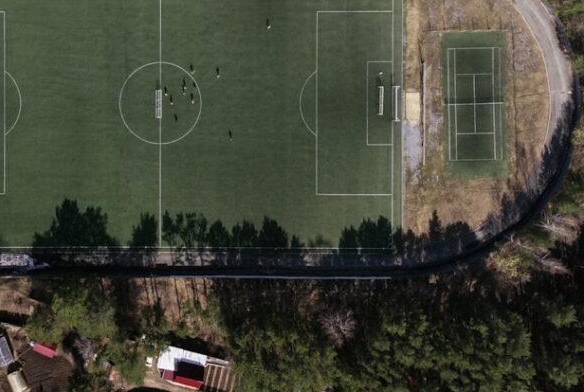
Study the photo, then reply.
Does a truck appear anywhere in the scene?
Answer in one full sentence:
No, the picture doesn't show any truck.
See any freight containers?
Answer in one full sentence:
No, I can't see a single freight container in this photo.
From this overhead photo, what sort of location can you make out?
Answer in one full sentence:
What you see here is a sports ground.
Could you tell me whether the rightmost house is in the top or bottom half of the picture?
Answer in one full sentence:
The rightmost house is in the bottom half of the image.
